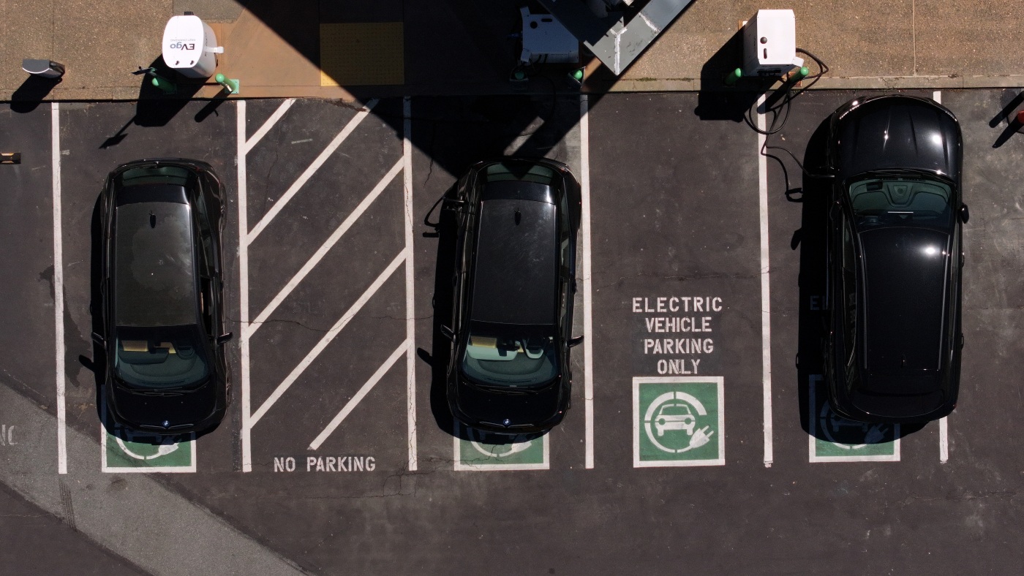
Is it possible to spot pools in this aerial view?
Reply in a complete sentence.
No, I find no pool anywhere in the image.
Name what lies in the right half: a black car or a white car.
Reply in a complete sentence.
The one visible in the right half is a black car.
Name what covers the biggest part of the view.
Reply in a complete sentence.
The largest share of the image is taken up by paved ground.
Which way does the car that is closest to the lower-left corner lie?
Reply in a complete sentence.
The car that is closest to the lower-left corner has been laid out from top to bottom relative to the frame.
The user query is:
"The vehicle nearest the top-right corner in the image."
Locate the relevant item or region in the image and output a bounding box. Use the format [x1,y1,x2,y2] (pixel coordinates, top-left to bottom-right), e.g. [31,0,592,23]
[817,96,970,426]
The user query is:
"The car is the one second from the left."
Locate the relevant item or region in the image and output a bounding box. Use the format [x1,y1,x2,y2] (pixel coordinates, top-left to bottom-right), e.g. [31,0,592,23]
[440,158,583,434]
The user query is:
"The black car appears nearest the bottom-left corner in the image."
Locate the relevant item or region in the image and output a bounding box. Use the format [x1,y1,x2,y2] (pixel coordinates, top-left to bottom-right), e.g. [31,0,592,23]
[92,160,235,435]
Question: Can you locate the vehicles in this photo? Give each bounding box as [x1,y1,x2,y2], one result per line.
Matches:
[92,160,235,435]
[817,96,970,426]
[440,158,583,434]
